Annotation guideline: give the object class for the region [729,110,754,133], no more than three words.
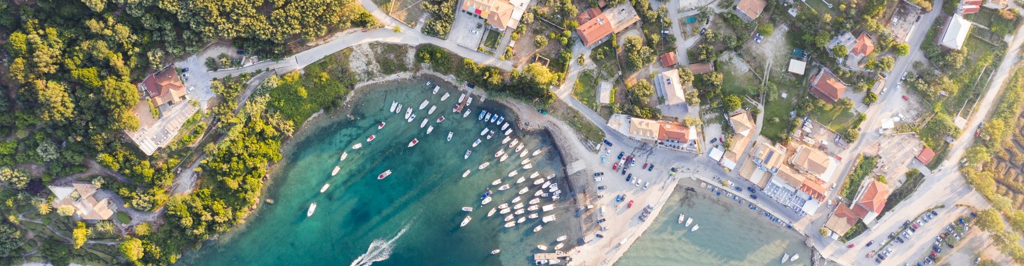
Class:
house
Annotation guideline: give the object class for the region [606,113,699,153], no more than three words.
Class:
building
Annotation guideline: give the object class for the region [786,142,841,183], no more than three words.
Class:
house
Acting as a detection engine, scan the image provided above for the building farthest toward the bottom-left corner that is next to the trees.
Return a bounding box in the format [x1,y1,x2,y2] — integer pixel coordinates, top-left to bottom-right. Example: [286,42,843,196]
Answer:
[48,184,121,220]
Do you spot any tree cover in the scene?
Yes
